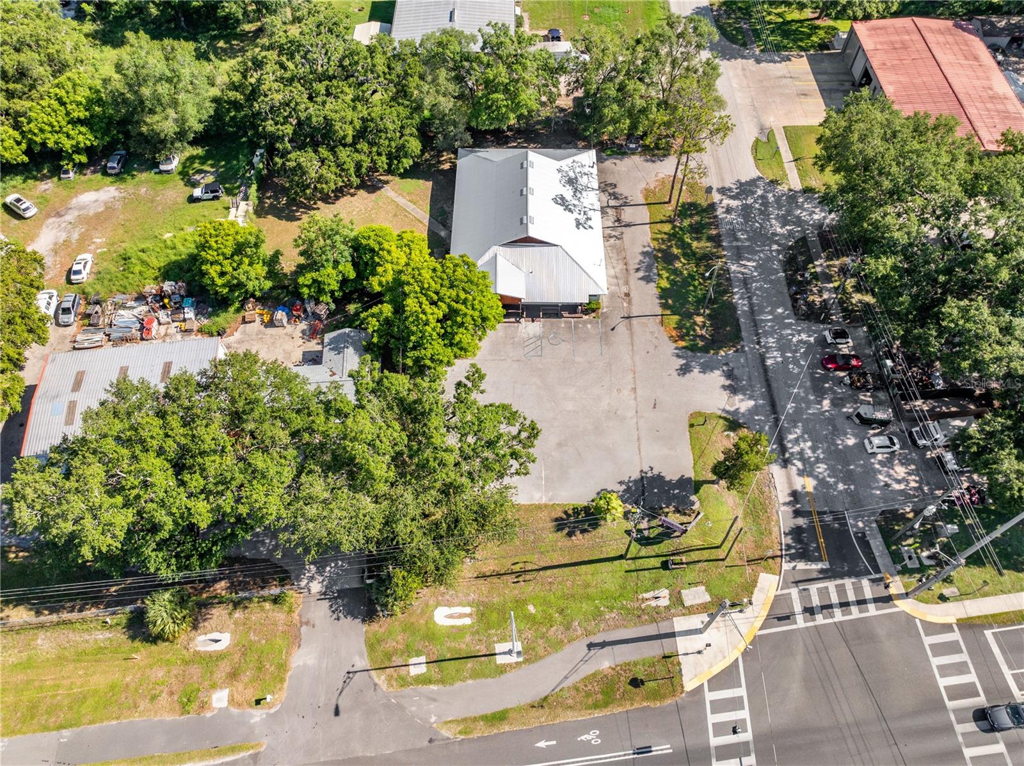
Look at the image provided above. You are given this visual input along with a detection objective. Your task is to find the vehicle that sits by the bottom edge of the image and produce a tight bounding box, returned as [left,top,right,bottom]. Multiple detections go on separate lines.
[984,701,1024,728]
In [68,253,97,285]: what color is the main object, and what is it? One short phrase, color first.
white car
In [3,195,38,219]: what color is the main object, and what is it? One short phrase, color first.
white car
